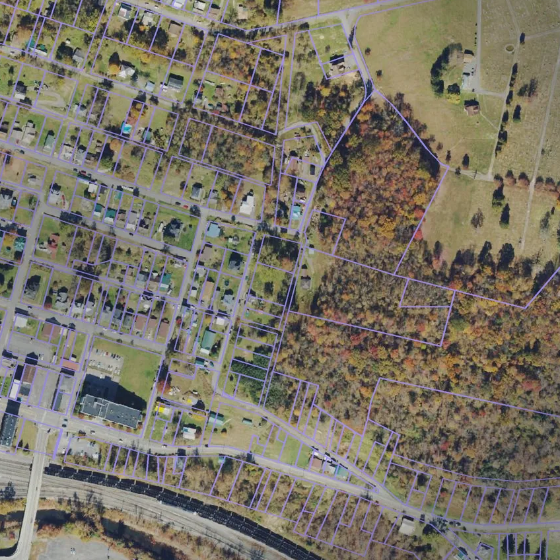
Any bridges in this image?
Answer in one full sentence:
Yes, the photo shows a bridge.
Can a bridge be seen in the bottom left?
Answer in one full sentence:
Yes, you'll find a bridge in the bottom left.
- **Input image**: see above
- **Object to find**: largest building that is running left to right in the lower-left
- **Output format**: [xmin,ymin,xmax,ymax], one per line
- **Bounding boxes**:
[80,396,144,428]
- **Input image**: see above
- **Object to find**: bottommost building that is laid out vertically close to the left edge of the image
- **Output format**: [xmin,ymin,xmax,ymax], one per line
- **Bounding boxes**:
[0,410,20,448]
